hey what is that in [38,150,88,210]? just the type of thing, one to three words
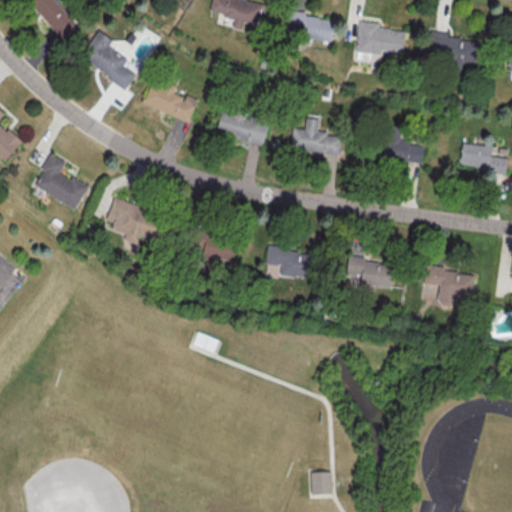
house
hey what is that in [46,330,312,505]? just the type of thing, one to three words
soccer field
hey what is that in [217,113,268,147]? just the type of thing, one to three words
house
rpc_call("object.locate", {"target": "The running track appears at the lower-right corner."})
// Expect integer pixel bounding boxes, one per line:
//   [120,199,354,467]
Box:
[422,400,512,512]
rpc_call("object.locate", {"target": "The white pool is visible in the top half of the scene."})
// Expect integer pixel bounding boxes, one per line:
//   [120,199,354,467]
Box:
[111,28,162,76]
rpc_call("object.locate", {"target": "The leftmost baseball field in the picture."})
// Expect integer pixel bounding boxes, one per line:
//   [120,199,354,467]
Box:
[25,458,130,512]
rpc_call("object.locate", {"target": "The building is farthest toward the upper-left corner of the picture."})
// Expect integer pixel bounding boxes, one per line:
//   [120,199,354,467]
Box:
[32,0,70,33]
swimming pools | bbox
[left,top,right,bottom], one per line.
[493,308,512,341]
[111,28,162,76]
